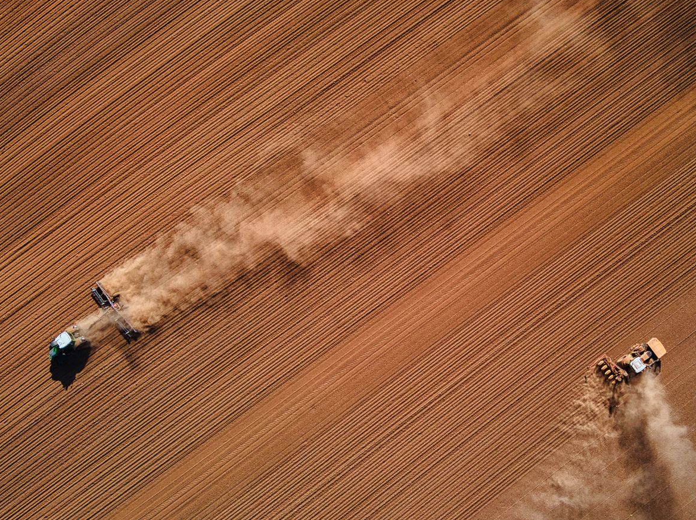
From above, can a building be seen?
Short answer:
No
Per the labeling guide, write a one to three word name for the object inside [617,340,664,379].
work vehicle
